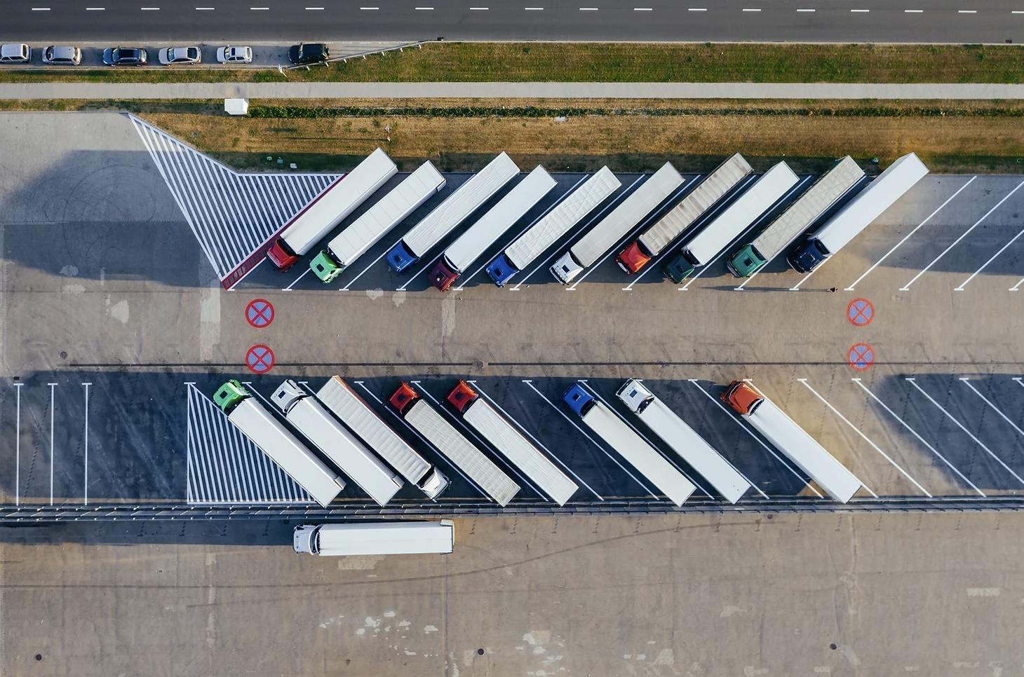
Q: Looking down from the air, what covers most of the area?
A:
paved ground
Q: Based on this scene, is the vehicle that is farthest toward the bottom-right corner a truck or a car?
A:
truck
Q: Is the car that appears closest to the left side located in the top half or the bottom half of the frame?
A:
top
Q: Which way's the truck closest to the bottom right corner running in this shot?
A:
on a diagonal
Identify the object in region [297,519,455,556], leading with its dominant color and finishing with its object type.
white truck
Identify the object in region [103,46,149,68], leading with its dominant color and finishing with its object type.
blue car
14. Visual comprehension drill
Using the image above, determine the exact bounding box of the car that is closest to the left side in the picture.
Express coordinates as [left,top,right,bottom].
[0,43,34,65]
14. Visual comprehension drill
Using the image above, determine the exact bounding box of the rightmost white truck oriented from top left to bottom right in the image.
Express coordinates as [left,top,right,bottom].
[722,379,862,504]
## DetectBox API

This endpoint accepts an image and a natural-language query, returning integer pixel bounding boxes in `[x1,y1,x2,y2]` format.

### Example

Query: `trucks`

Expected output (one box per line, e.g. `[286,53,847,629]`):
[214,381,349,507]
[444,379,579,506]
[662,161,800,284]
[561,381,697,507]
[385,151,520,276]
[787,152,930,274]
[617,151,754,275]
[264,147,400,273]
[617,377,751,504]
[426,165,557,291]
[271,379,406,507]
[722,379,862,504]
[725,155,865,281]
[485,165,622,289]
[317,376,452,500]
[387,380,521,507]
[311,160,449,283]
[297,519,455,556]
[550,161,685,287]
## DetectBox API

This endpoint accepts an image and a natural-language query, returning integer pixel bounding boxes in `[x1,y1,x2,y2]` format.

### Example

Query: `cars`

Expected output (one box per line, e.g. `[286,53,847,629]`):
[103,46,149,68]
[0,43,34,65]
[217,44,254,64]
[159,45,204,66]
[42,44,84,66]
[288,42,330,64]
